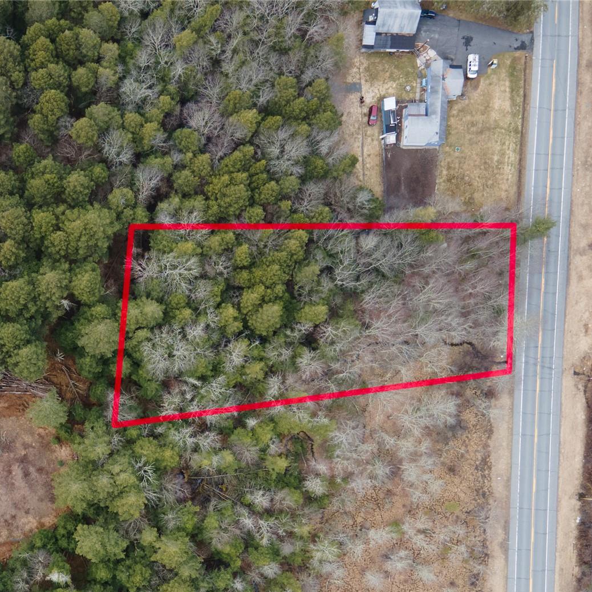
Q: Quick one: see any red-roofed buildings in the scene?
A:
No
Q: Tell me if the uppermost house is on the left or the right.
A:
right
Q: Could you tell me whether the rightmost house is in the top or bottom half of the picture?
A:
top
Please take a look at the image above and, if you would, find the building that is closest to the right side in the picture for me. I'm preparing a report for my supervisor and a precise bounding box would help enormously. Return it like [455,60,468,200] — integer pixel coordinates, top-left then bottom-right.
[398,60,464,148]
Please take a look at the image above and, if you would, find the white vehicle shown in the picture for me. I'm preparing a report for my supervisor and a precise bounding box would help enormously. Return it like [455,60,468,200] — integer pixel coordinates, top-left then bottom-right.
[465,54,478,79]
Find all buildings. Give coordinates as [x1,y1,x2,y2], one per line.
[376,96,396,138]
[360,0,422,52]
[398,60,464,148]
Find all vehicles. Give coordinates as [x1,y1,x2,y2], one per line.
[465,54,478,79]
[366,106,376,127]
[420,8,438,22]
